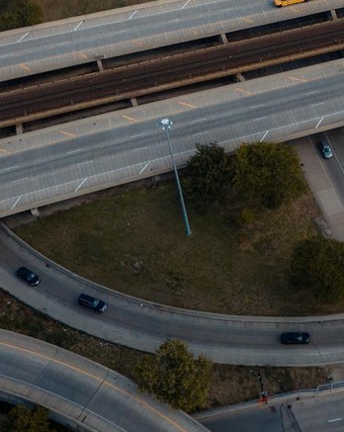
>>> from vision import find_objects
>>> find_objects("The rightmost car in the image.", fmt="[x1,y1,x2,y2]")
[320,140,332,158]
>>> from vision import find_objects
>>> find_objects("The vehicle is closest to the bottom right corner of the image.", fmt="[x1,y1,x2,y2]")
[280,330,310,345]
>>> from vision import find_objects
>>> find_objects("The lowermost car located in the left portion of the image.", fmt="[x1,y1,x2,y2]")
[79,294,105,312]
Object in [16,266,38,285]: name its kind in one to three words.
car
